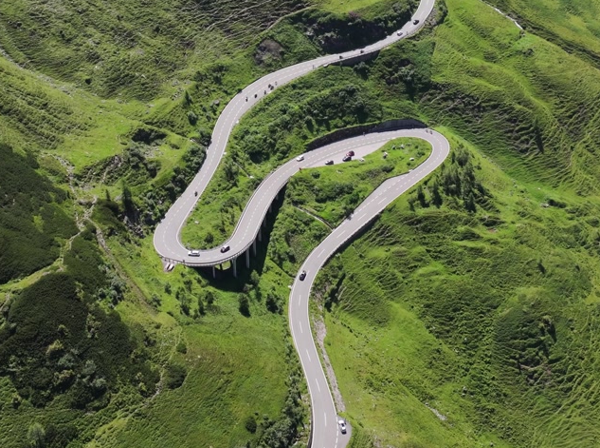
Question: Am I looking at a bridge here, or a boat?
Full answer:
The one in the frame is a bridge.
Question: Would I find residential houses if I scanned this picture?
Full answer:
No, the frame has no residential house in it.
